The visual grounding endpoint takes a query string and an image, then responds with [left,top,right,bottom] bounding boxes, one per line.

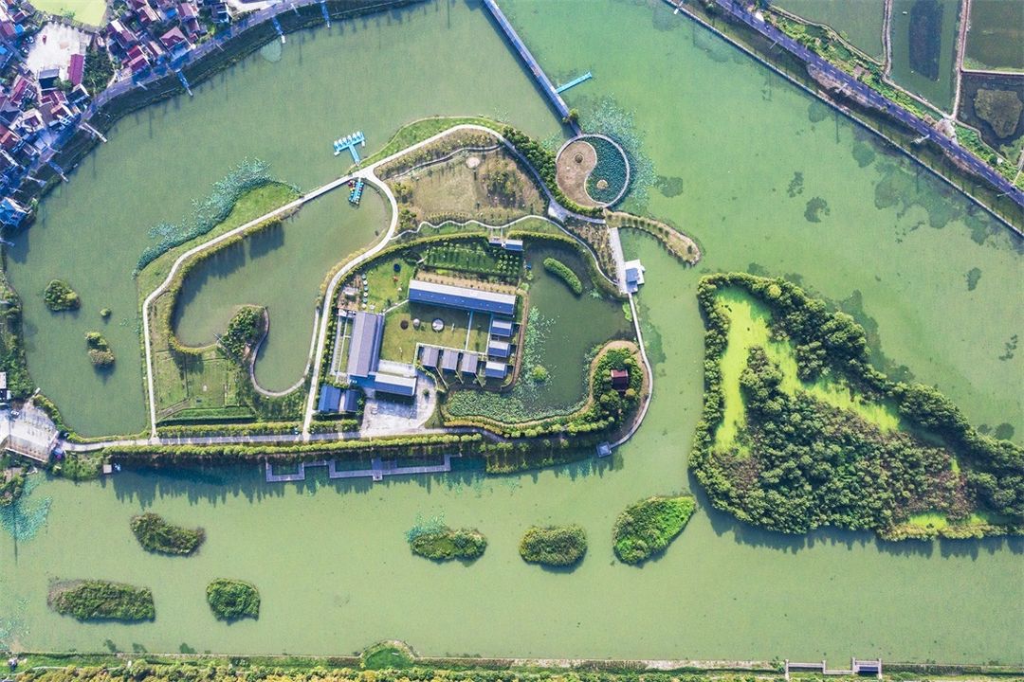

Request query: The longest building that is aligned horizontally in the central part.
[409,281,516,317]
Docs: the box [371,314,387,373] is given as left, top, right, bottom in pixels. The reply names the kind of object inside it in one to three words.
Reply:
building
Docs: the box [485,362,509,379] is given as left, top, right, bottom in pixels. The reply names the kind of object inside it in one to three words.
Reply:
house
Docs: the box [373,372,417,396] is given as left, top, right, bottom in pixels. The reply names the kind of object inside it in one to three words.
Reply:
building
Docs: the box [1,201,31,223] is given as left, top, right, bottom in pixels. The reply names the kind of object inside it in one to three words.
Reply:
house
